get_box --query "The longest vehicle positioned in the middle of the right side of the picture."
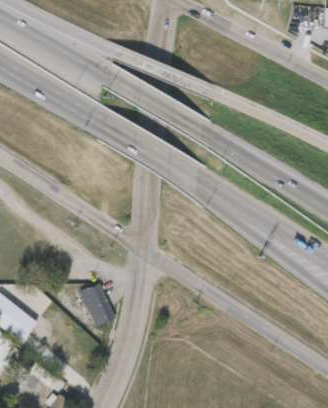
[294,238,313,252]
